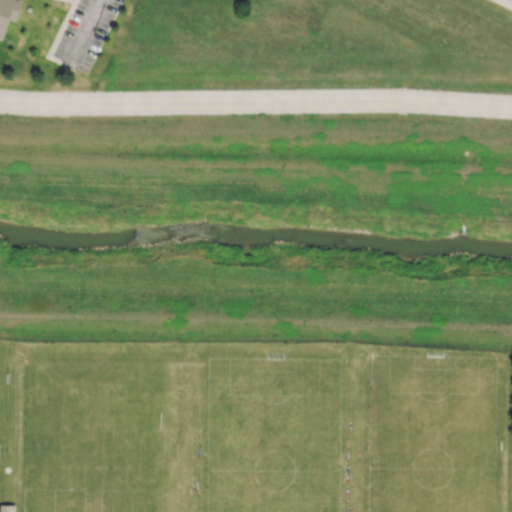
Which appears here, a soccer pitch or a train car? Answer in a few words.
soccer pitch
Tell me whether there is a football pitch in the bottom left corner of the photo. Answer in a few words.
Yes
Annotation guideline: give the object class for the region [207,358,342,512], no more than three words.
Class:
soccer field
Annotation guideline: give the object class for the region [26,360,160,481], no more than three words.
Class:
soccer field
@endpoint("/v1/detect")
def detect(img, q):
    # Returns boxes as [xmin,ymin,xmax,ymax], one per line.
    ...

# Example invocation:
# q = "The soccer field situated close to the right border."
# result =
[370,356,498,512]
